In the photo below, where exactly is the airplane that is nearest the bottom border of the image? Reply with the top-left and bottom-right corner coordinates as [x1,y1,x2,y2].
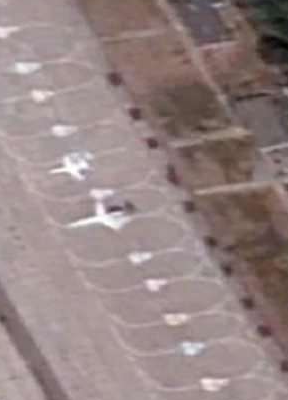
[198,378,228,391]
